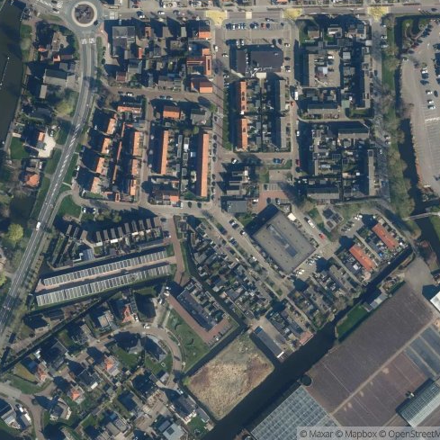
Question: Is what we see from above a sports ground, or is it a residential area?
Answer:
residential area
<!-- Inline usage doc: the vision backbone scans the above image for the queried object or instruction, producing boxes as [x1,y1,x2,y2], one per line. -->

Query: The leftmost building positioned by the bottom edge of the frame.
[0,398,20,424]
